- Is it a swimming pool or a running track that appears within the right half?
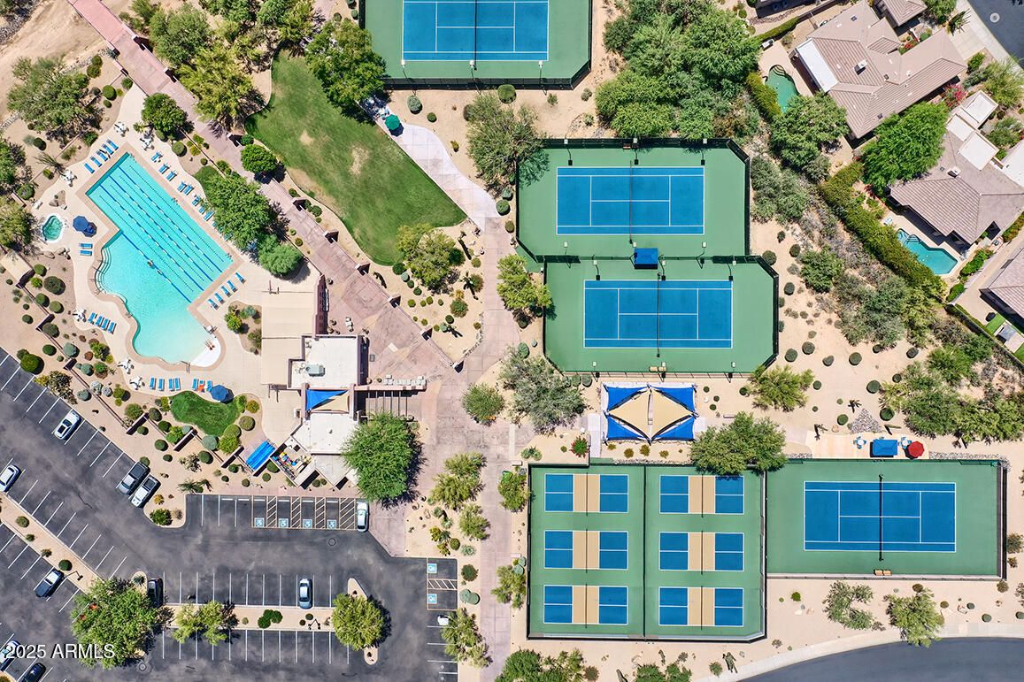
swimming pool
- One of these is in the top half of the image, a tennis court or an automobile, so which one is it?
tennis court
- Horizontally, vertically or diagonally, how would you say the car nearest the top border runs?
diagonally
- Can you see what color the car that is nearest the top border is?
white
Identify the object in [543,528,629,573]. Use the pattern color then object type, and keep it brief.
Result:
blue sports court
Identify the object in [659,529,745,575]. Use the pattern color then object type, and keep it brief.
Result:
blue sports court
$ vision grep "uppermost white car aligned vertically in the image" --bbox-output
[355,500,369,532]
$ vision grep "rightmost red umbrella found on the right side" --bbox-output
[906,441,923,457]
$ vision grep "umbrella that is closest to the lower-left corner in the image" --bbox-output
[211,384,228,401]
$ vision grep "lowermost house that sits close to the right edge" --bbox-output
[981,250,1024,329]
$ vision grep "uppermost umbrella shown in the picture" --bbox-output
[385,116,400,130]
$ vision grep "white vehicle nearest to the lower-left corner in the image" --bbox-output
[0,639,20,669]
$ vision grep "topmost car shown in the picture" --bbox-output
[53,411,81,440]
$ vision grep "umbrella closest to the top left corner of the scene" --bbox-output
[73,216,89,231]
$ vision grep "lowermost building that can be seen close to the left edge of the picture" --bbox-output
[0,251,38,286]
